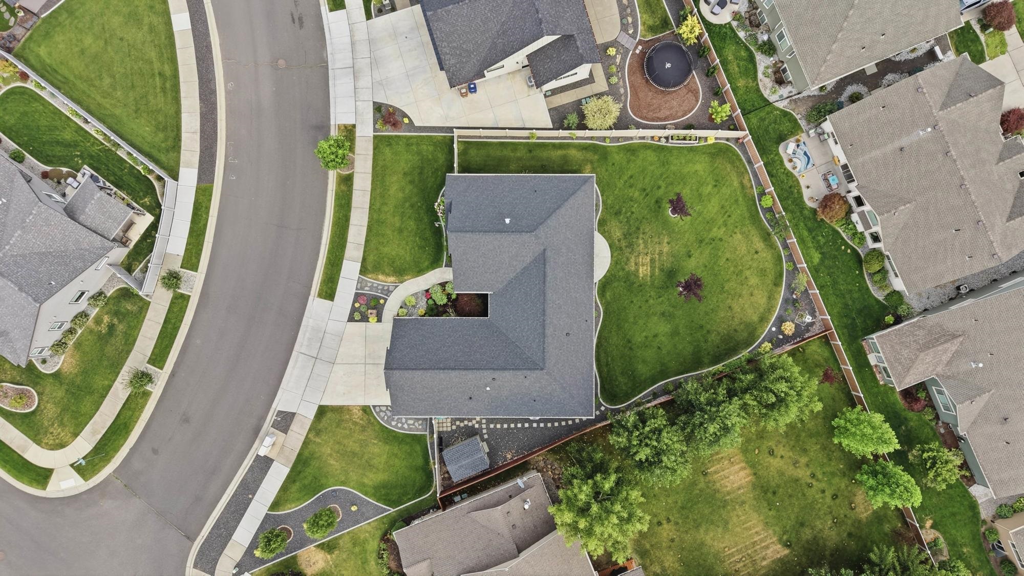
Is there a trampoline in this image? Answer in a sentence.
Yes, you can see a trampoline in this photo.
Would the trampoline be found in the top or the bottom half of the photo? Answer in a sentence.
Seen from above, the trampoline lies in the top half of the view.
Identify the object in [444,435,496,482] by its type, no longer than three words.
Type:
shed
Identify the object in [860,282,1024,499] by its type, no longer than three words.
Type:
house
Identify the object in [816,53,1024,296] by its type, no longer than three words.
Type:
house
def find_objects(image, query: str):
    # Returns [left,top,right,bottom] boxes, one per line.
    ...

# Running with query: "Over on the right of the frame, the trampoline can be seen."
[641,35,696,93]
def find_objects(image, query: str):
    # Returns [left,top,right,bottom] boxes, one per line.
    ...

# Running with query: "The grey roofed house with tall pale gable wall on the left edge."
[0,150,145,369]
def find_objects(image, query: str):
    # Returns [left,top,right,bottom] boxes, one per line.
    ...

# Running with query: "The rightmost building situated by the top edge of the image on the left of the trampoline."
[419,0,602,95]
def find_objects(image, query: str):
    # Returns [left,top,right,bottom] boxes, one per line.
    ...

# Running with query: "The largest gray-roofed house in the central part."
[383,172,598,421]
